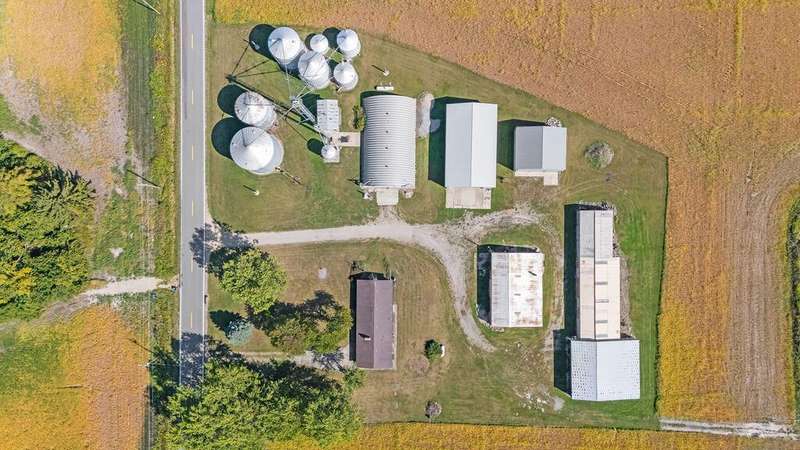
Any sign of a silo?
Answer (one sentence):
Yes, this view includes a silo.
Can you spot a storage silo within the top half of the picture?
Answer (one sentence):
Yes, I can see a storage silo within the top half of the picture.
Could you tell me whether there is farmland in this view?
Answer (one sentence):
Yes, the picture does contain farmland.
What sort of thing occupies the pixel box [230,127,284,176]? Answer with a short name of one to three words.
silo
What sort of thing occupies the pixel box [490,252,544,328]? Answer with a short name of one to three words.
barn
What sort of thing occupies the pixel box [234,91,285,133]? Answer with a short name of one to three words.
silo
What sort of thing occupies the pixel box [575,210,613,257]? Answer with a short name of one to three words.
shed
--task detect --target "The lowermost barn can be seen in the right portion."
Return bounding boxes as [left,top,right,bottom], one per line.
[566,338,640,401]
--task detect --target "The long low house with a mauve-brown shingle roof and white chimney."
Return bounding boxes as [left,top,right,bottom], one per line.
[356,280,392,370]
